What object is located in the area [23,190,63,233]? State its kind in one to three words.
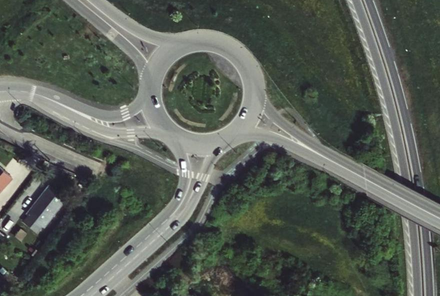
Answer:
shed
